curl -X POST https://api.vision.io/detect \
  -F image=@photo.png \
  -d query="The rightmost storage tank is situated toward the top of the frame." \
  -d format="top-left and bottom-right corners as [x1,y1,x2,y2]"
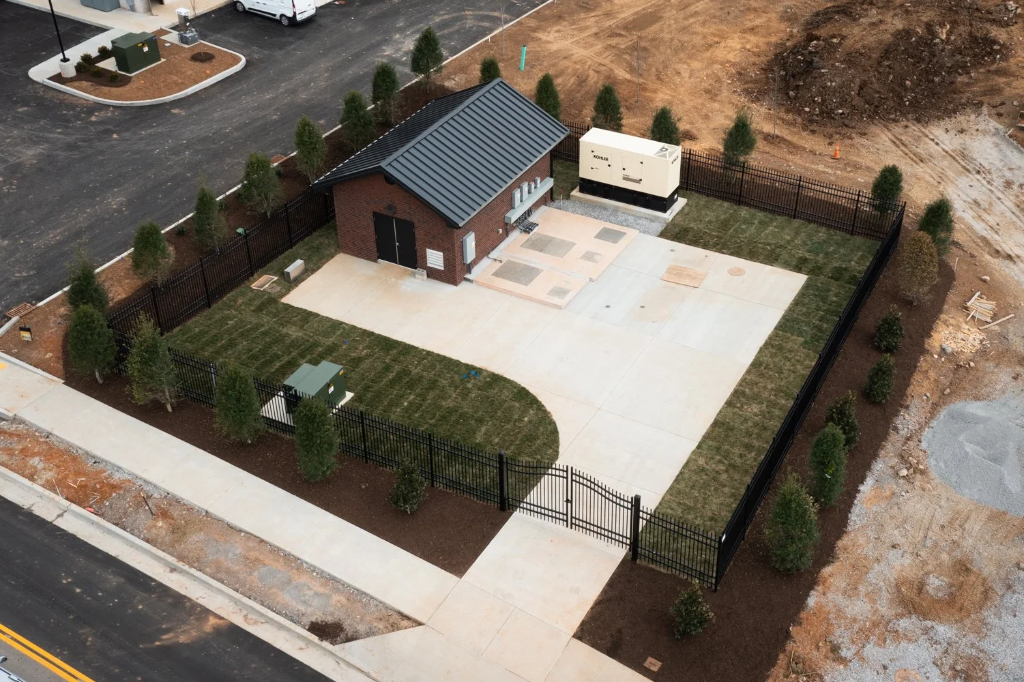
[579,178,681,212]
